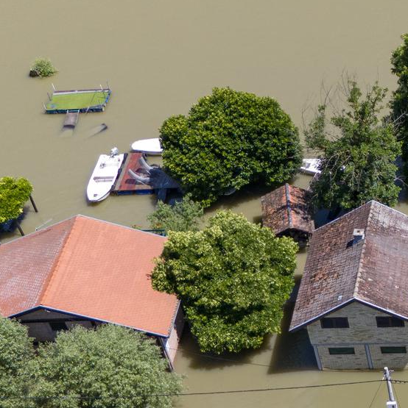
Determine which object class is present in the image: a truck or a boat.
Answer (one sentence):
This aerial view contains a boat.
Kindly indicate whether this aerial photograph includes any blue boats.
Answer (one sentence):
No, this view has no blue boat in it.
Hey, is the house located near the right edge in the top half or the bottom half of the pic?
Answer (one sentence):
The bottom half of the photo is where the house located near the right edge is.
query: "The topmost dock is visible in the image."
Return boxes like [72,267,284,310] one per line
[114,152,188,196]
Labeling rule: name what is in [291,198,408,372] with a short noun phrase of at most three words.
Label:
house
